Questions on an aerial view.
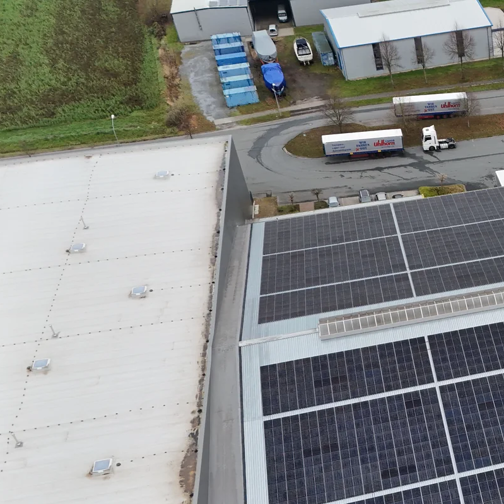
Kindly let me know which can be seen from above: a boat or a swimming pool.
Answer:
boat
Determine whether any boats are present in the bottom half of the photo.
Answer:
No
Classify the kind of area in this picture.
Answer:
industrial area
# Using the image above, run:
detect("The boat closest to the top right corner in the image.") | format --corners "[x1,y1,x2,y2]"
[295,37,315,66]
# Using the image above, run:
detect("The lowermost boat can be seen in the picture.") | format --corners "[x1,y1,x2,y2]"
[260,62,287,95]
